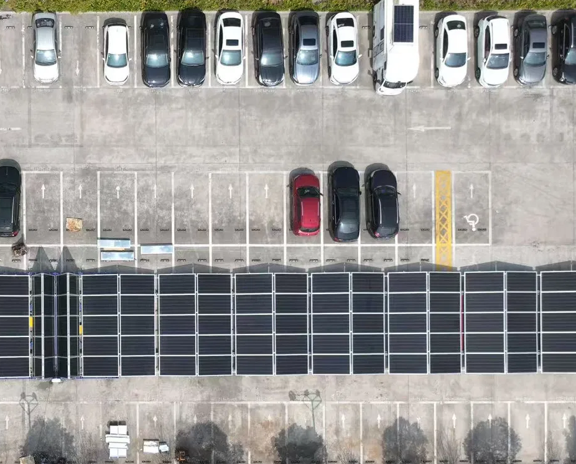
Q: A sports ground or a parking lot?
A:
parking lot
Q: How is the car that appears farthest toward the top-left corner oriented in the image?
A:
from top to bottom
